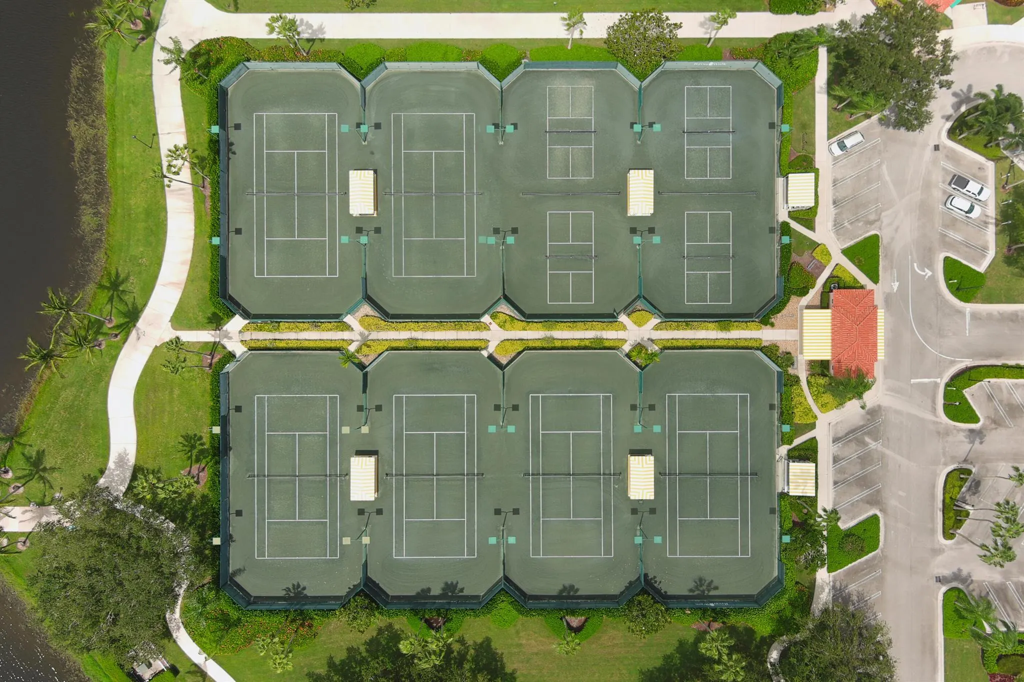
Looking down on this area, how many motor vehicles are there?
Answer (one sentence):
Looking from above, you can make out 3 motor vehicles.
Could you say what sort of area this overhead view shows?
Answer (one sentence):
This image shows a sports ground.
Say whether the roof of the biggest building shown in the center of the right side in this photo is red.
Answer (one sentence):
Yes, the roof of the biggest building shown in the center of the right side is indeed red.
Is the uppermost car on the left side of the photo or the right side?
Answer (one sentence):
The uppermost car is on the right side of the image.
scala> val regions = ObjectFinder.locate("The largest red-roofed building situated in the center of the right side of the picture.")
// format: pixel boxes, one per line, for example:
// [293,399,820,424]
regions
[796,289,884,379]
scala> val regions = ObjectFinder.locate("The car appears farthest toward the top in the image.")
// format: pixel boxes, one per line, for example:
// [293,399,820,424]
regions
[826,130,866,157]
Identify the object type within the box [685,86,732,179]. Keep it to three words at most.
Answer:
sports court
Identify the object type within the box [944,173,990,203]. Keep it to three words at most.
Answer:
truck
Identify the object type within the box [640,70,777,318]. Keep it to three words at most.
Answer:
tennis court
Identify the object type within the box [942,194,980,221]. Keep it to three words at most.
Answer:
car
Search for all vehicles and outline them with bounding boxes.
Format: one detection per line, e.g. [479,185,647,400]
[826,130,866,157]
[942,194,980,221]
[944,173,990,203]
